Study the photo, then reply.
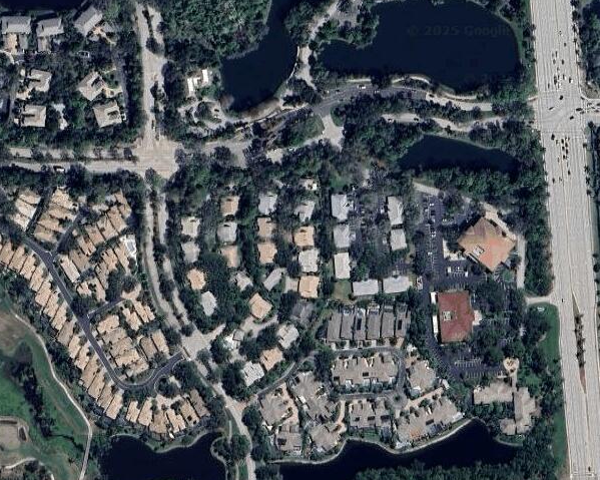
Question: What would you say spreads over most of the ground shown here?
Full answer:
The largest share of the image is taken up by trees.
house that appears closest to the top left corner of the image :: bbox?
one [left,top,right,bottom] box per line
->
[2,16,31,49]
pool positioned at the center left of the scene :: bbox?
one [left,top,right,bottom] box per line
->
[124,237,142,262]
